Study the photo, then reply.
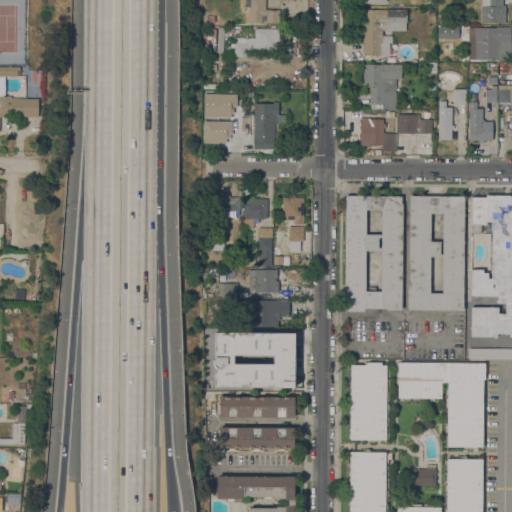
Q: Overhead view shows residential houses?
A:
Yes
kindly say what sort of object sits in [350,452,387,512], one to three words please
building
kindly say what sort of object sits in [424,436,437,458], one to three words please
swimming pool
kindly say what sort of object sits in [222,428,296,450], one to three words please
house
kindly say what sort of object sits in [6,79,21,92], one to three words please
swimming pool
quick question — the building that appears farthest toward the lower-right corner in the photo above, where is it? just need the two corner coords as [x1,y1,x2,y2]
[448,459,485,512]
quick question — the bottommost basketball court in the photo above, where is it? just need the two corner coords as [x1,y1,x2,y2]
[23,67,41,98]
